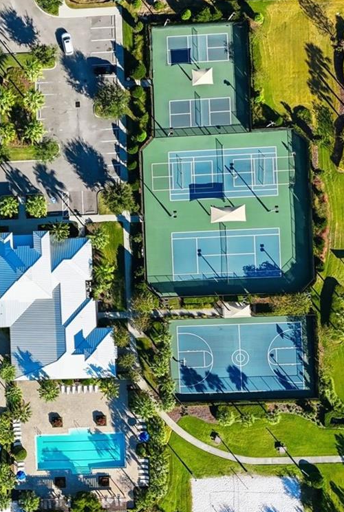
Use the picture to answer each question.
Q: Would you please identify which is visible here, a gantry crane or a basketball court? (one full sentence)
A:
I can see a basketball court in this picture.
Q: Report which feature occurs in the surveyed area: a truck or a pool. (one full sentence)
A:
The one in the frame is a pool.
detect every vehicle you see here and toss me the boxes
[61,31,74,55]
[94,63,116,74]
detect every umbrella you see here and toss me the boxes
[17,473,27,484]
[141,433,152,444]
